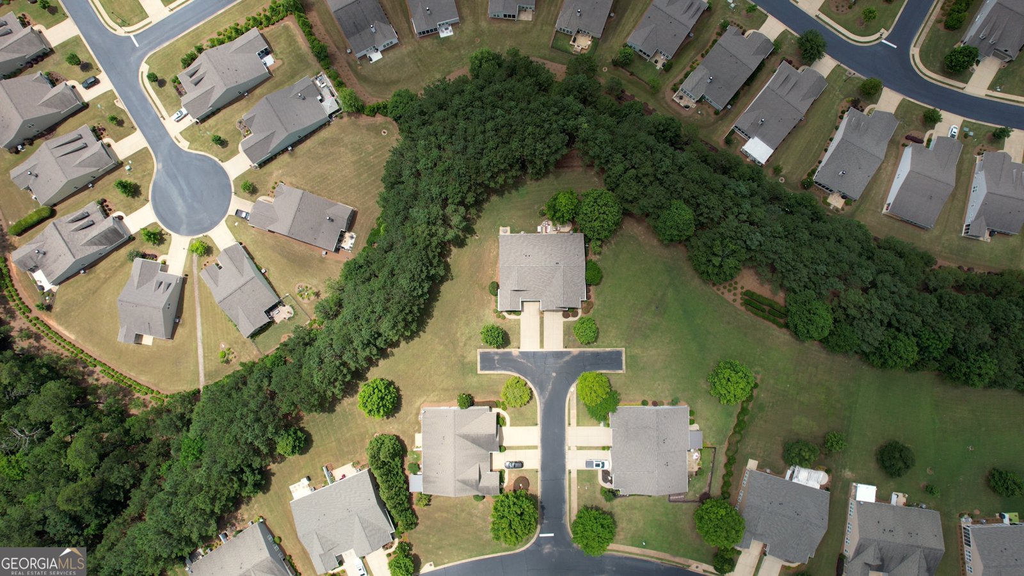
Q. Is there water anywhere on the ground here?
No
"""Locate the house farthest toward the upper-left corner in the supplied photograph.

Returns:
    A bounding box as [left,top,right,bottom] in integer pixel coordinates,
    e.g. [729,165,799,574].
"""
[0,11,50,78]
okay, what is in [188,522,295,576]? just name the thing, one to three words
house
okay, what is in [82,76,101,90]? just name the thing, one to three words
car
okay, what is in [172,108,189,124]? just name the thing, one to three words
car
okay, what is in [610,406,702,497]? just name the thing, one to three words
house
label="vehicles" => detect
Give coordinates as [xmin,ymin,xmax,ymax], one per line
[82,76,101,90]
[947,122,958,137]
[172,108,189,124]
[230,207,248,220]
[586,460,609,469]
[505,460,524,468]
[355,560,370,576]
